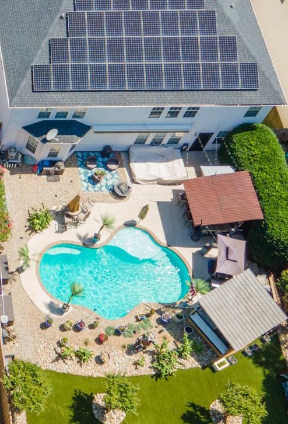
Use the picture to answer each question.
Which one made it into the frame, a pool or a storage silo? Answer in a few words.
pool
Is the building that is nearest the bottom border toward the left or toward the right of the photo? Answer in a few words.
right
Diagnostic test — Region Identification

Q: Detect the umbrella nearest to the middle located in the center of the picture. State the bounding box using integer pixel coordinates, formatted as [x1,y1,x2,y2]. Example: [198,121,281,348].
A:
[133,201,155,227]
